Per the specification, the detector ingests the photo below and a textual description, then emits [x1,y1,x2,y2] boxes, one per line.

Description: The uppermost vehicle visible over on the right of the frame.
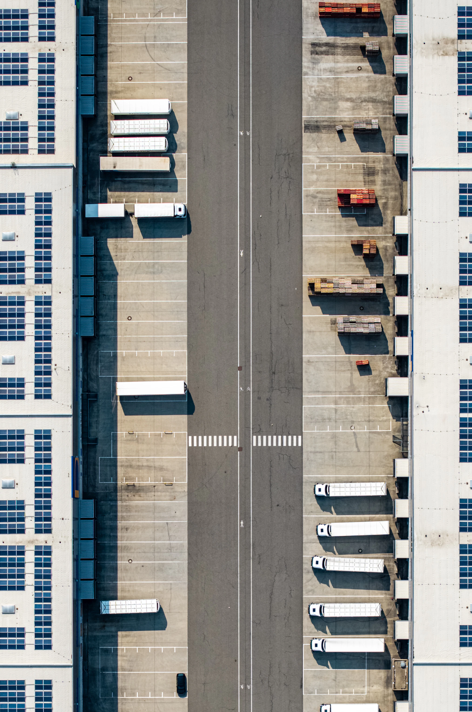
[313,483,386,498]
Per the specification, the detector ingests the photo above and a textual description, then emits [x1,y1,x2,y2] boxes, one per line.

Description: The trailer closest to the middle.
[116,380,188,396]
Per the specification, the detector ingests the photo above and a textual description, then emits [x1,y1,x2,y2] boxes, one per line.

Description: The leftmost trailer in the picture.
[85,204,127,219]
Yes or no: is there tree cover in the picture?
No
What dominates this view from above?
paved ground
